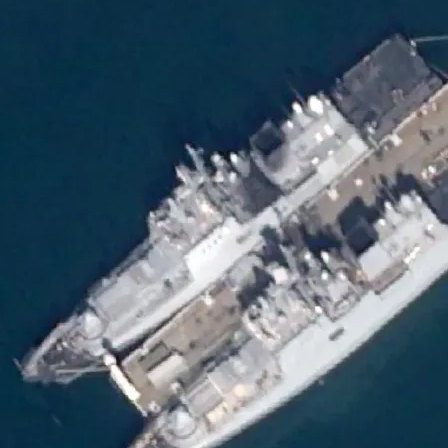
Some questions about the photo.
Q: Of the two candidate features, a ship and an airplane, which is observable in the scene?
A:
ship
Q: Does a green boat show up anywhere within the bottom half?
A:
No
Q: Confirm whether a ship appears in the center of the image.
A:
Yes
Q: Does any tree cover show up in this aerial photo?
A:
No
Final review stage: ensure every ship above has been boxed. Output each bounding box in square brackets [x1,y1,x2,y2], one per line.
[15,39,445,388]
[125,170,448,448]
